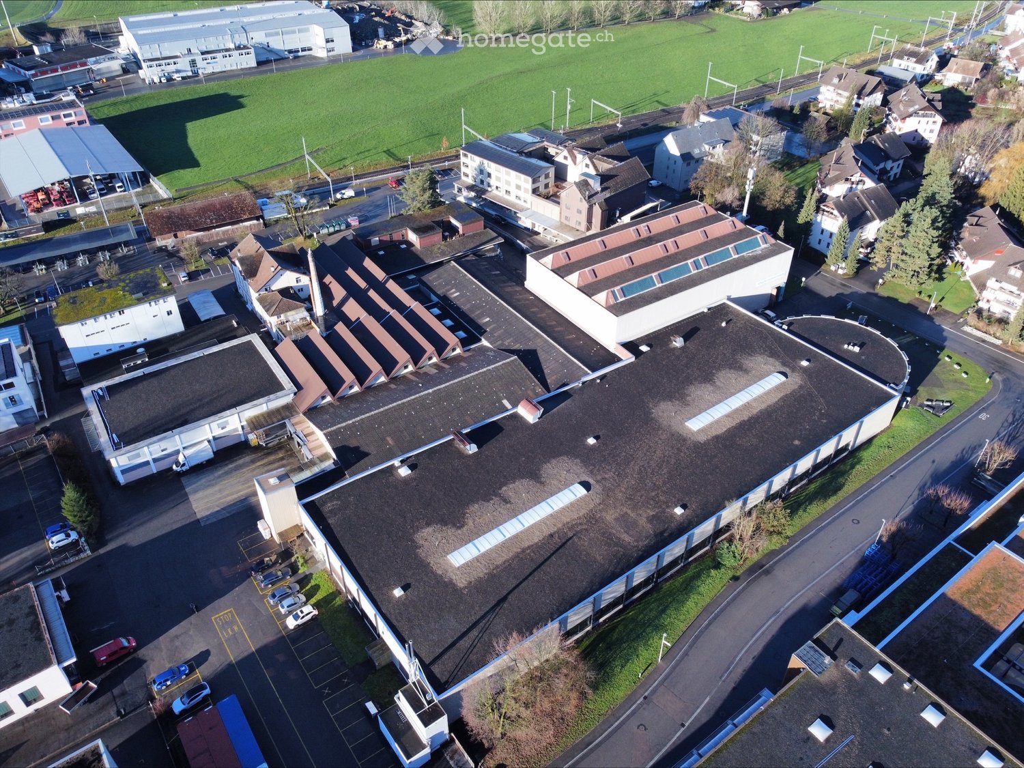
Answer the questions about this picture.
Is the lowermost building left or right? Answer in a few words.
left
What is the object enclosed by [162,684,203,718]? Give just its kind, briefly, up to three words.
car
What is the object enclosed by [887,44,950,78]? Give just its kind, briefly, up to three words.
house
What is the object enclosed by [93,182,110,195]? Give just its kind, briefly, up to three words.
vehicle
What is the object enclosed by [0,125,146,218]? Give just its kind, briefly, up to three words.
shed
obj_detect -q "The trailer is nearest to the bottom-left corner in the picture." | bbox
[52,670,105,720]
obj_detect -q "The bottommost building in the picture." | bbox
[38,737,114,768]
